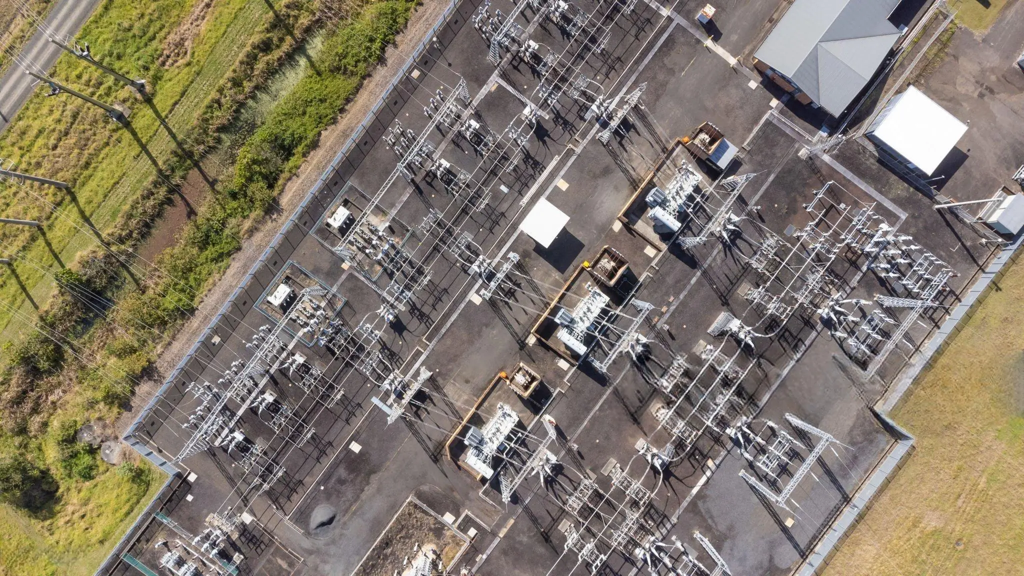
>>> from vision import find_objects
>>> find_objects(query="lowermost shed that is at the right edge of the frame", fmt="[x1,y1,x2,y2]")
[977,191,1024,235]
